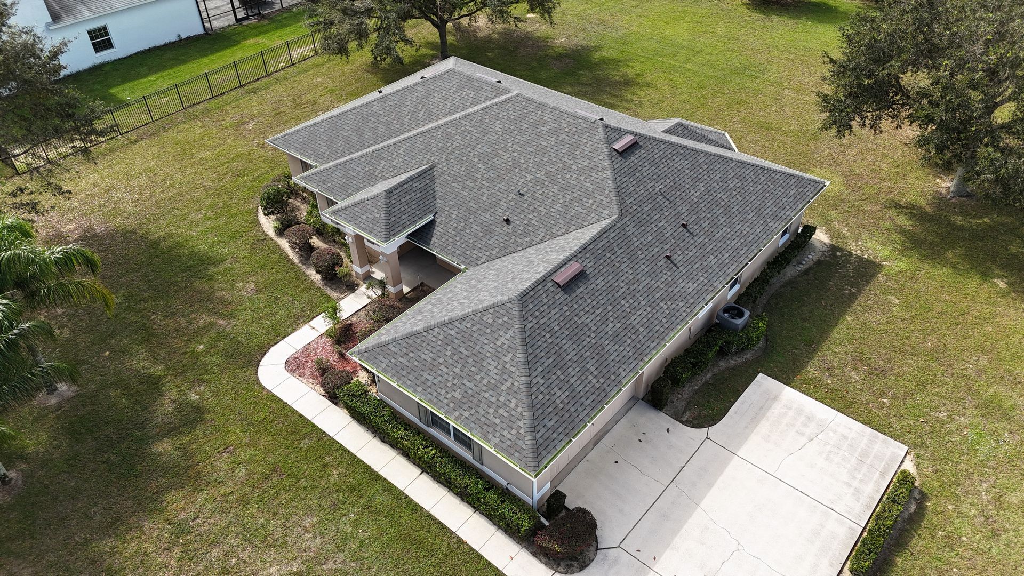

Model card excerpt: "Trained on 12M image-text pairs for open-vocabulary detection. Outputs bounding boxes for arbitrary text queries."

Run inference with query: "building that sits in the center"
[267,55,831,520]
